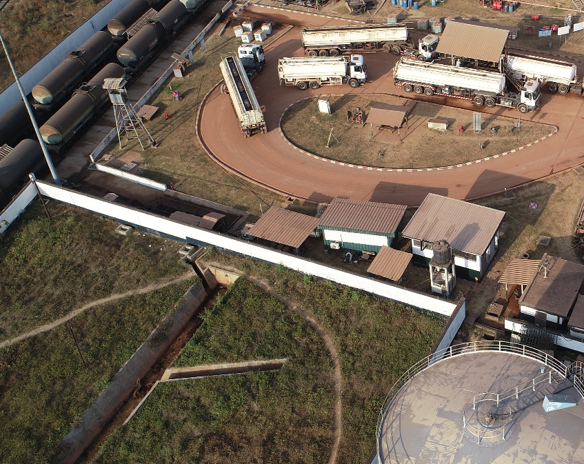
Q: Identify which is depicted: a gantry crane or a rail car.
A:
rail car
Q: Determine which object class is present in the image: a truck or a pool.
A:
truck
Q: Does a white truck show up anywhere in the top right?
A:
Yes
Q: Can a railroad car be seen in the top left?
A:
Yes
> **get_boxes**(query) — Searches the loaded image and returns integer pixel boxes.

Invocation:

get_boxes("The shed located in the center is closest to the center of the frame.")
[248,206,319,252]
